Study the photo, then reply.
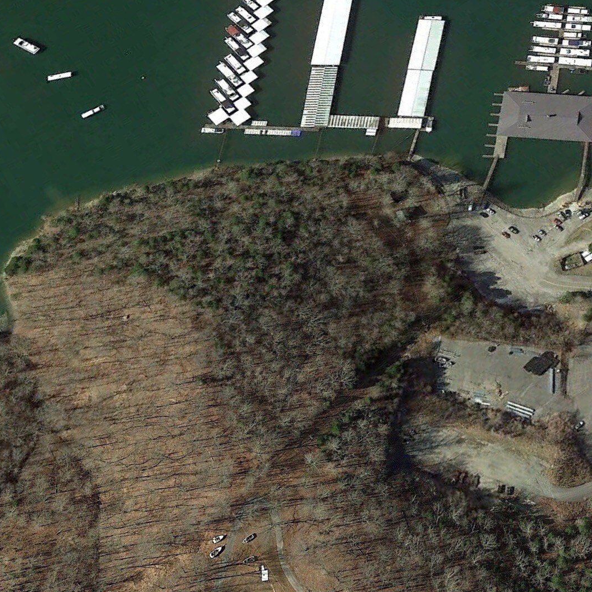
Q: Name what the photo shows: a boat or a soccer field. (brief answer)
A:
boat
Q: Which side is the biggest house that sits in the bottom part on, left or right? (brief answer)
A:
right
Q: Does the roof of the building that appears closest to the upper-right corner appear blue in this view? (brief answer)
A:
No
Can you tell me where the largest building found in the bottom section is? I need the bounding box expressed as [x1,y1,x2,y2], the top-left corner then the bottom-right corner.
[524,353,556,375]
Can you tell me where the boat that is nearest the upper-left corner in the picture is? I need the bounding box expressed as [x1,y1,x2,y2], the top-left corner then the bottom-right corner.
[14,37,41,56]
